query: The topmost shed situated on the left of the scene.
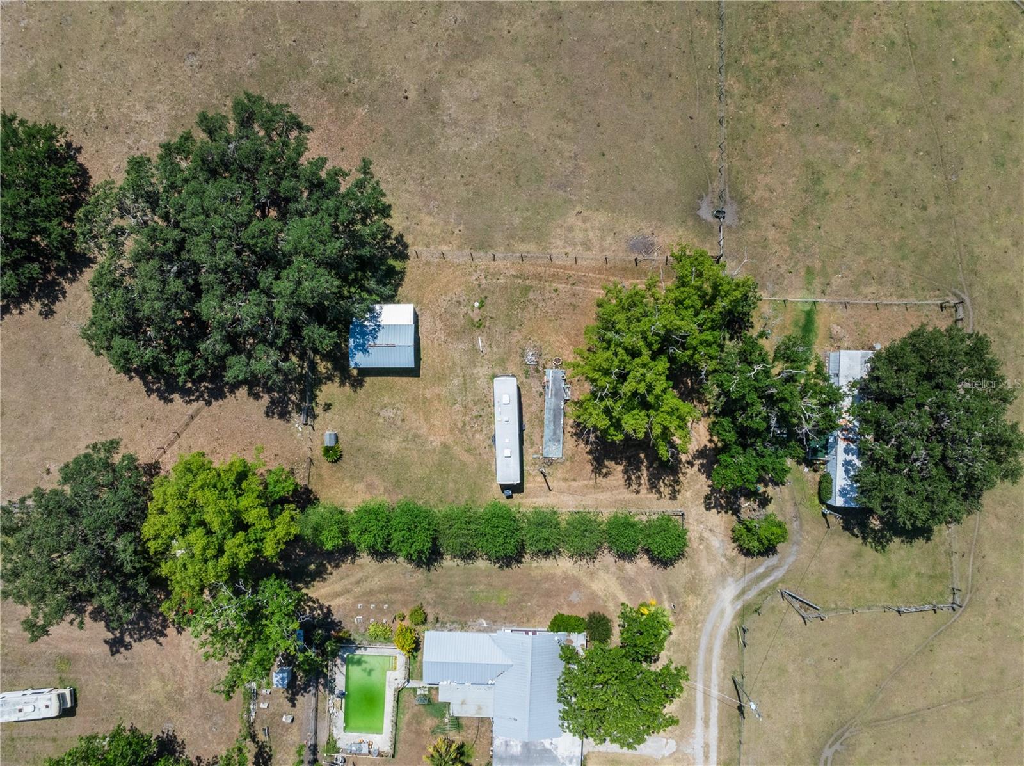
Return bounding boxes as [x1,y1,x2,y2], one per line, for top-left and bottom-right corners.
[350,304,416,367]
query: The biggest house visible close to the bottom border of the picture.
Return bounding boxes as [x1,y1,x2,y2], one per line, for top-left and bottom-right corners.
[423,622,566,742]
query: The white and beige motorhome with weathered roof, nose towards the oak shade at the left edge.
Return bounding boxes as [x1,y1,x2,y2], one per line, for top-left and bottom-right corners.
[0,683,82,720]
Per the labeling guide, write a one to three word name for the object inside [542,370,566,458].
trailer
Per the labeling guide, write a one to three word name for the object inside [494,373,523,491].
trailer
